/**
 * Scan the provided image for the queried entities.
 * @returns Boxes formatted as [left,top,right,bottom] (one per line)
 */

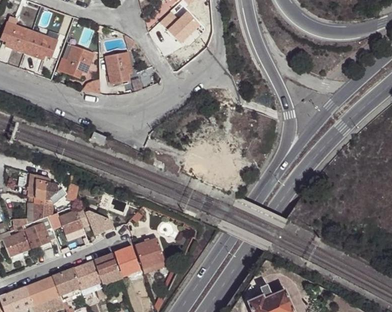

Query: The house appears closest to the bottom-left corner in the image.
[0,286,33,312]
